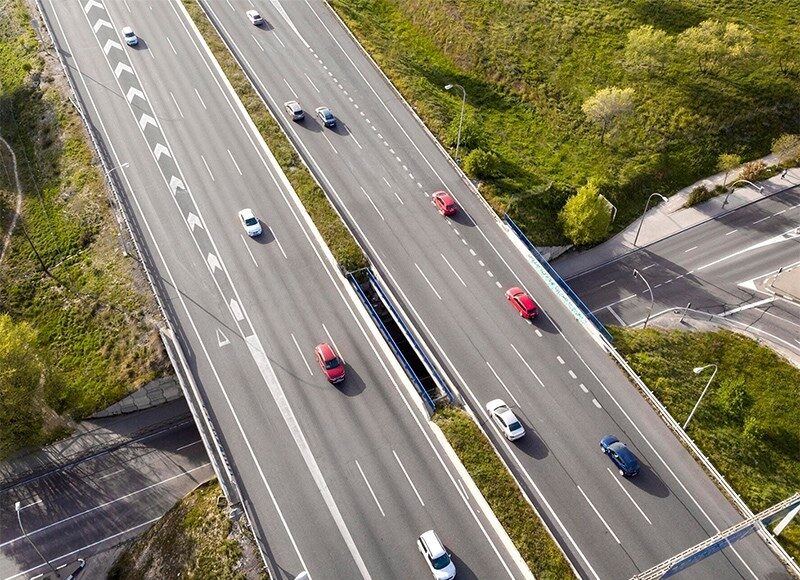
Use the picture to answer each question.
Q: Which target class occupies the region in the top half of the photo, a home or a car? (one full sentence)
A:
There is a car in the top half of the photo.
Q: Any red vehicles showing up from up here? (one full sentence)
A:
Yes, the image includes a red vehicle.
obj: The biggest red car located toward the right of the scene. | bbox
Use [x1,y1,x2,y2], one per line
[507,286,543,320]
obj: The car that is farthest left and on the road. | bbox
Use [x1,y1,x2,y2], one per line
[123,27,141,45]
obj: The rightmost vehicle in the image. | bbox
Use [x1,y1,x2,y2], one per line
[602,434,648,482]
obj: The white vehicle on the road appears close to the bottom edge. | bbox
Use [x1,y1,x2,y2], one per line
[417,528,462,580]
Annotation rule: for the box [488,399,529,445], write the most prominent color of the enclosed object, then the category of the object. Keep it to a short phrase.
white car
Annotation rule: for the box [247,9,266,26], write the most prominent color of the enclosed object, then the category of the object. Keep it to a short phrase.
white car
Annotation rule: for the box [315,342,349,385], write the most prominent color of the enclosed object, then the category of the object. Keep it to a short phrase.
red car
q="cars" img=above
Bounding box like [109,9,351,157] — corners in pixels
[434,192,462,217]
[417,528,462,580]
[507,286,543,320]
[315,342,349,385]
[123,27,141,45]
[488,399,529,445]
[284,99,307,121]
[238,207,264,237]
[602,434,648,482]
[247,9,266,26]
[316,107,340,129]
